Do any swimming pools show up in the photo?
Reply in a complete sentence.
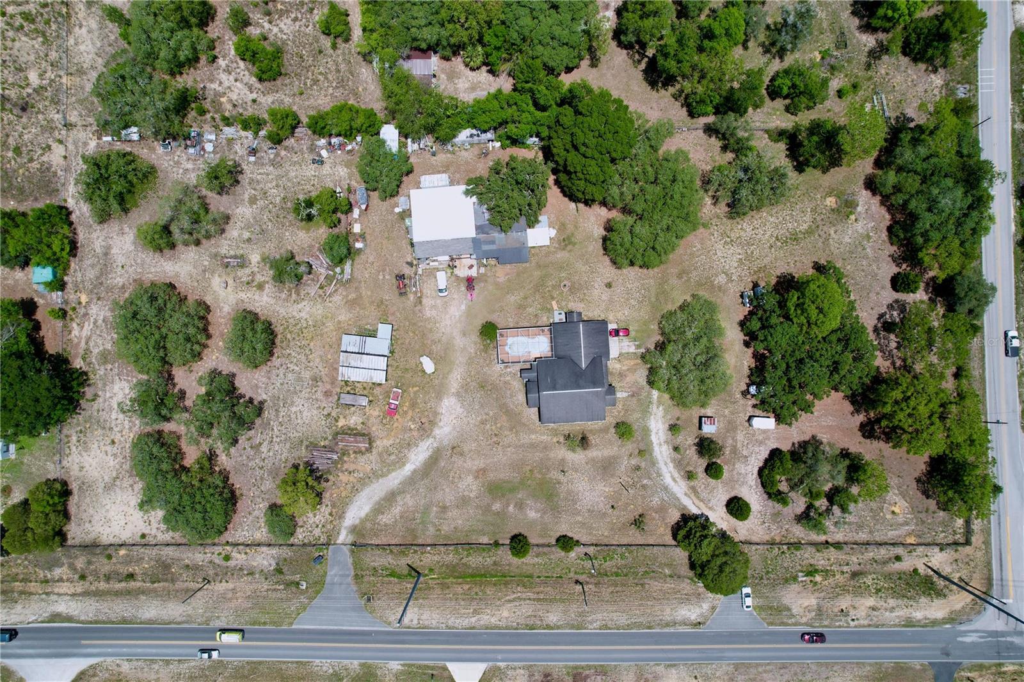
Yes, a swimming pool can be made out from above.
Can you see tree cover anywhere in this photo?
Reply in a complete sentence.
Yes, tree cover shows up in the scene.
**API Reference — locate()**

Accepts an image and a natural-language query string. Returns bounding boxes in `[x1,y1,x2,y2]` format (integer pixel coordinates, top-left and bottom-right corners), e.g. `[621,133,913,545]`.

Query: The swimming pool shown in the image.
[499,328,554,363]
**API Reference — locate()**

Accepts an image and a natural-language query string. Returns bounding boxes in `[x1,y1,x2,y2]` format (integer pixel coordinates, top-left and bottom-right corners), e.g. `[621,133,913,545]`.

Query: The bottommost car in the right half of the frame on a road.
[801,631,825,643]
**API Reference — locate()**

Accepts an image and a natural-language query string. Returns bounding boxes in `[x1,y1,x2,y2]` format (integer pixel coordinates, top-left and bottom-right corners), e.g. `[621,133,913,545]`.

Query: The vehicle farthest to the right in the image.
[1003,330,1018,358]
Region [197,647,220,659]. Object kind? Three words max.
vehicle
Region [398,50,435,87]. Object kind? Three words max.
shed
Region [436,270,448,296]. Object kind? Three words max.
vehicle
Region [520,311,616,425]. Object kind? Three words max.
house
